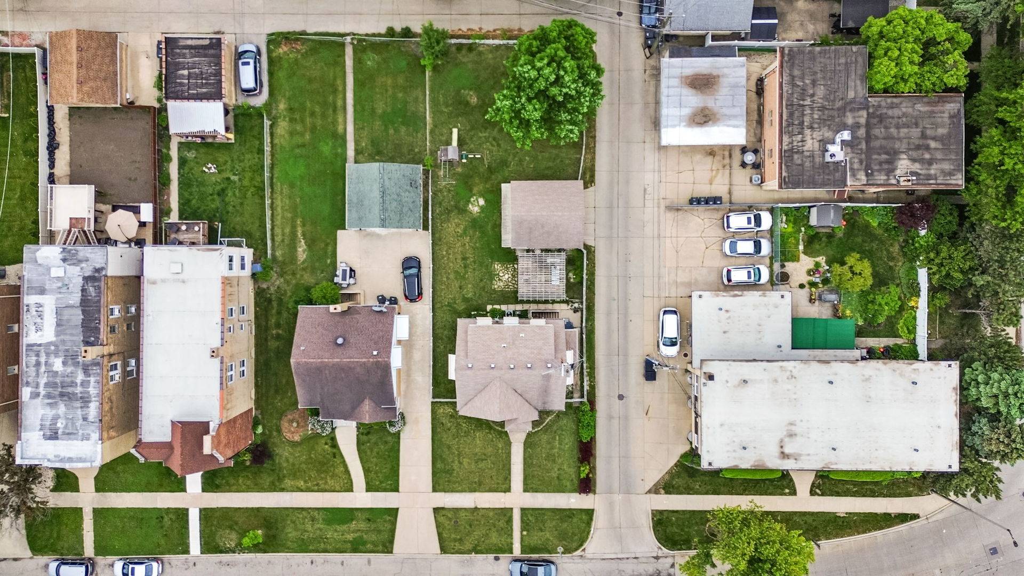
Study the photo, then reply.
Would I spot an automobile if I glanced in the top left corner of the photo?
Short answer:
Yes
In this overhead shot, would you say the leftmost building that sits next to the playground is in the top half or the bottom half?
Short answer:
top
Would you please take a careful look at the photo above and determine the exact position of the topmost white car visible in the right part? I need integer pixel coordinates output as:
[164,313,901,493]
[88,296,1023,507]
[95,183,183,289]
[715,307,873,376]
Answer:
[723,209,770,233]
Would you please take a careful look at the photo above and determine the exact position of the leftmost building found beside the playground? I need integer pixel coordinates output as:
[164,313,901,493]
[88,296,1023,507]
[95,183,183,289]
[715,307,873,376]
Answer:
[346,161,423,232]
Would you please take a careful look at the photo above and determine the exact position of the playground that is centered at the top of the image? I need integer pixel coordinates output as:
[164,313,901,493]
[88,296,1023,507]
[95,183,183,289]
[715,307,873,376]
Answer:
[438,128,482,183]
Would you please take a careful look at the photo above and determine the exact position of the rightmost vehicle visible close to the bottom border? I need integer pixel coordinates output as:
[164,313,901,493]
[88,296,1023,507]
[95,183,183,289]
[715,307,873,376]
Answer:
[509,556,555,576]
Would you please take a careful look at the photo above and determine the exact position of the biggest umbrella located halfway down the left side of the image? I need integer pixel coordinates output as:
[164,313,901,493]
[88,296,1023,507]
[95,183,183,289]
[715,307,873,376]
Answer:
[107,209,139,247]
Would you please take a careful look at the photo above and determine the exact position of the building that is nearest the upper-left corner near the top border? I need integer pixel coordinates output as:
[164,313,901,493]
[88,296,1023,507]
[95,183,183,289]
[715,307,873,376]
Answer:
[48,27,131,110]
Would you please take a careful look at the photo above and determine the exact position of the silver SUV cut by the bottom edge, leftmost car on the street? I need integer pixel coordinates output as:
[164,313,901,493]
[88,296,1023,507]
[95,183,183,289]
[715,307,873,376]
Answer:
[53,554,100,576]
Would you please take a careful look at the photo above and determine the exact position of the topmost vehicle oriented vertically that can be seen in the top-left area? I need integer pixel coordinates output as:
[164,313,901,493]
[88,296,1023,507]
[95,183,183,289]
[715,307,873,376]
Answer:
[238,47,264,97]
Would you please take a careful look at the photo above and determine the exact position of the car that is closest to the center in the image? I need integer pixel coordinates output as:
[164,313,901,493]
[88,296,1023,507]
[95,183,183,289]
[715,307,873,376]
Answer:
[401,257,423,302]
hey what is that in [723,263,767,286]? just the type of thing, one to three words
car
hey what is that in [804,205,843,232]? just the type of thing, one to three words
shed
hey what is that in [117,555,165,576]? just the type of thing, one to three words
car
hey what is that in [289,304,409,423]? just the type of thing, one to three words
house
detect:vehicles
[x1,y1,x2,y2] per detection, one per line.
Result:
[657,308,681,354]
[509,556,555,576]
[723,263,767,286]
[723,209,770,233]
[117,555,165,576]
[238,47,264,97]
[638,0,660,33]
[401,257,423,302]
[53,554,100,576]
[724,236,770,259]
